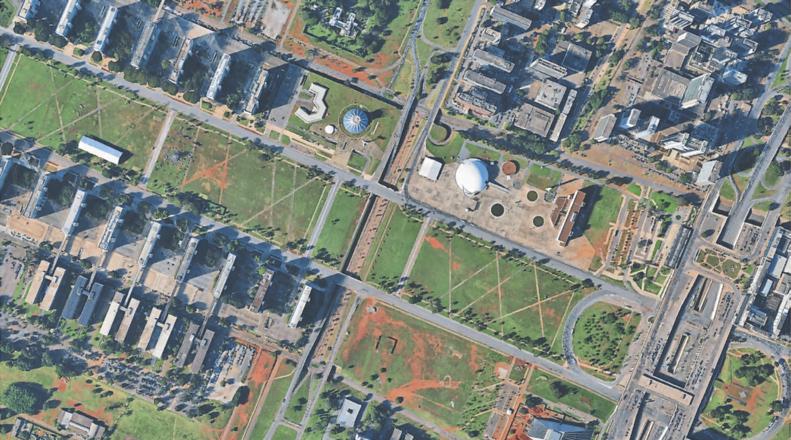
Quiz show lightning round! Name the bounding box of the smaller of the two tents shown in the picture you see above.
[419,157,443,181]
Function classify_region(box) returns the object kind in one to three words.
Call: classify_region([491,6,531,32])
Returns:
building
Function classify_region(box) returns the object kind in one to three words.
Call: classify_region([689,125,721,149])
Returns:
building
